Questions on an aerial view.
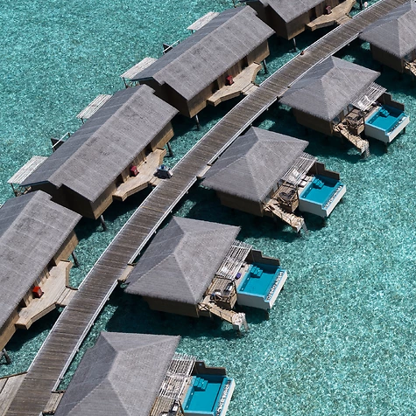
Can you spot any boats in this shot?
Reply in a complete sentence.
No, there isn't any boat down there.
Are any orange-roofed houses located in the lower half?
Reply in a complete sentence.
No, looking in the lower half, there is no orange-roofed house.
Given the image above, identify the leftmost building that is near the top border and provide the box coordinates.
[121,5,275,134]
